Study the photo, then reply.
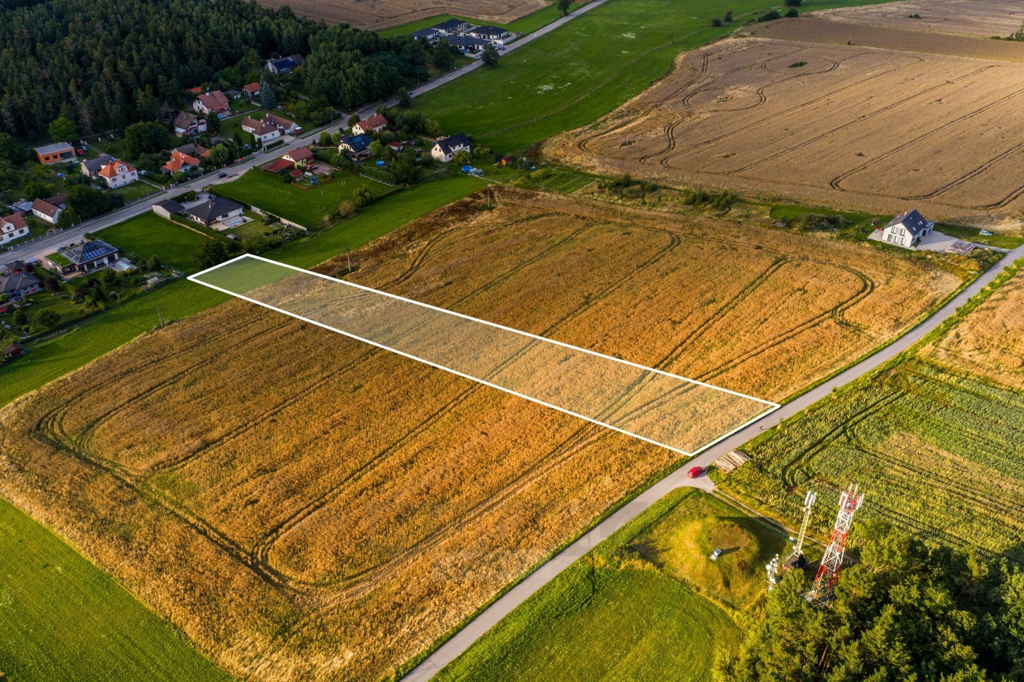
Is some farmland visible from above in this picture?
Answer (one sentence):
Yes, there is farmland in the image.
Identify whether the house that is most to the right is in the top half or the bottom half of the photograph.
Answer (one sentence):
The house that is most to the right sits in the top half of the picture.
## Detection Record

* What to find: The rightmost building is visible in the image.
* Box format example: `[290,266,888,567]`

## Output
[883,205,954,248]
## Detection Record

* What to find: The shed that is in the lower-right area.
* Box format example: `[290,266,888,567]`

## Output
[779,548,815,581]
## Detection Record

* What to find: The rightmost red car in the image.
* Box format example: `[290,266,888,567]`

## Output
[687,464,707,479]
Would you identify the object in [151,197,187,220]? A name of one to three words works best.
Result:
building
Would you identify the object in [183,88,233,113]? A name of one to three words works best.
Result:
house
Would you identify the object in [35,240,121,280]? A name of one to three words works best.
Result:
house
